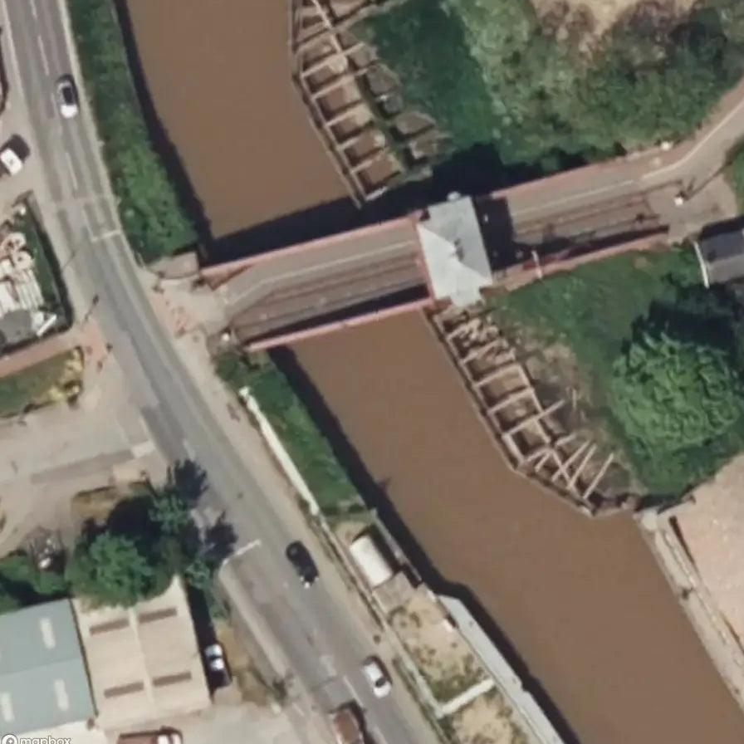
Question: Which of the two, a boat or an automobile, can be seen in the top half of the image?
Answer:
automobile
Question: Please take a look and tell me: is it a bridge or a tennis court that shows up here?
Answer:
bridge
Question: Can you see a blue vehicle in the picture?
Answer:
No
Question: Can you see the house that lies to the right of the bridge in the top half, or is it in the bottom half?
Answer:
top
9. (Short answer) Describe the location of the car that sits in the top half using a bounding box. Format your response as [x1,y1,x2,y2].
[55,76,77,120]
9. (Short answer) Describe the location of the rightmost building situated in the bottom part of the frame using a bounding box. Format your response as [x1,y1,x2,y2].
[349,535,393,587]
